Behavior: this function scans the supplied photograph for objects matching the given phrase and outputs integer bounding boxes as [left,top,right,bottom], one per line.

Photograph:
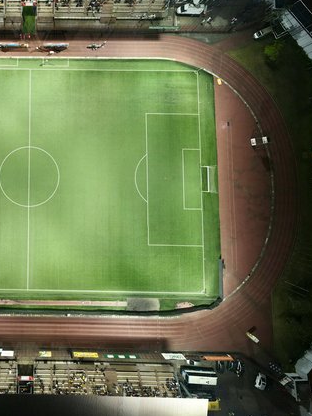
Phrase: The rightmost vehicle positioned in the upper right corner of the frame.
[255,29,274,41]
